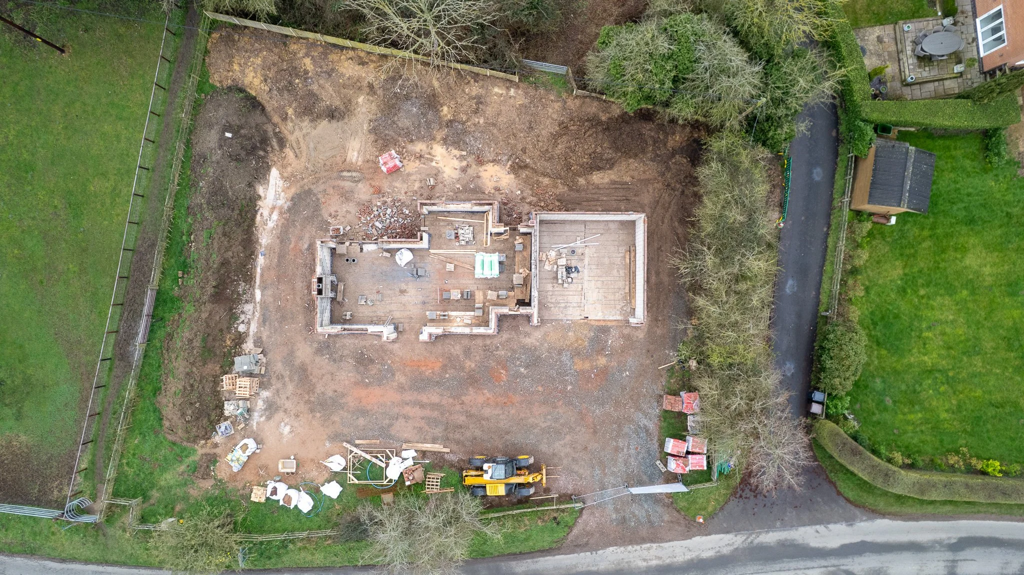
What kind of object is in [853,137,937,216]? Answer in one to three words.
shed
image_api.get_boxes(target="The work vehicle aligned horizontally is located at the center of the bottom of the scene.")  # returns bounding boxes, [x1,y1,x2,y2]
[461,454,557,500]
